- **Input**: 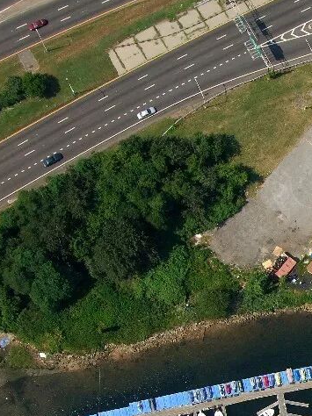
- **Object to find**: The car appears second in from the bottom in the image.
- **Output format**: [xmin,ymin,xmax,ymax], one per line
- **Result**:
[136,106,156,121]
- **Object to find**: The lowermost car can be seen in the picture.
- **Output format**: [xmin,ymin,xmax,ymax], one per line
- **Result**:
[42,151,63,167]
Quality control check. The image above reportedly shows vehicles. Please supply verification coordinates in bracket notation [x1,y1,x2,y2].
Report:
[42,151,63,167]
[27,16,48,32]
[136,106,156,121]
